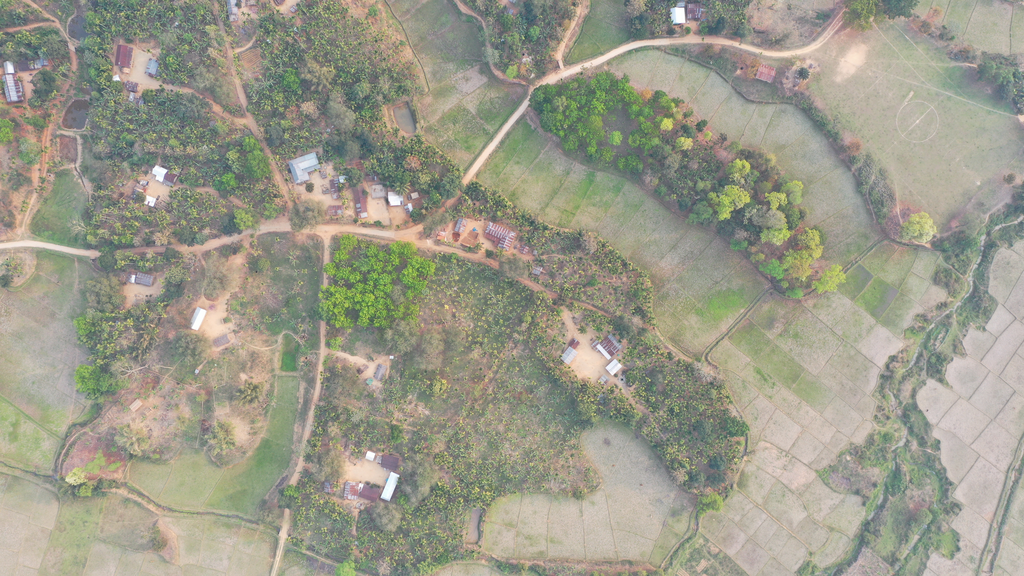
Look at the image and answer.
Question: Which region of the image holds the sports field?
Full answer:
Look in the top right portion of the view to spot the sports field.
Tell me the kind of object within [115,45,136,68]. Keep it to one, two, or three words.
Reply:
house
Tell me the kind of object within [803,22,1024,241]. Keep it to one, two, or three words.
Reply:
sports field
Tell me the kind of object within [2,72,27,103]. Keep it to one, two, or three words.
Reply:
house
